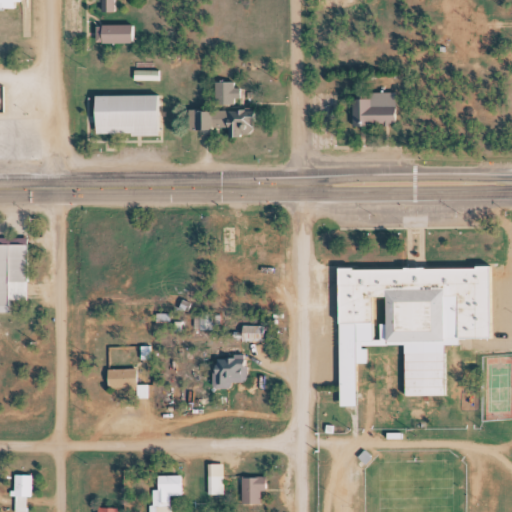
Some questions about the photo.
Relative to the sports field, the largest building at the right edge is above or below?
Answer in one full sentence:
It's above the sports field that the largest building at the right edge shows up.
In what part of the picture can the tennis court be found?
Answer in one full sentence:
The tennis court is located in the bottom right region of the scene.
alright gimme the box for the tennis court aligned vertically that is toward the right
[487,356,512,420]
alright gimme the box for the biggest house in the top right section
[352,90,398,126]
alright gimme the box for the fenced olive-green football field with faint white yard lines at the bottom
[366,451,466,512]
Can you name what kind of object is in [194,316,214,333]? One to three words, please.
shed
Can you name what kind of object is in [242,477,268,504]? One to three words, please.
house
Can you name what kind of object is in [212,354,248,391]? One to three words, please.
house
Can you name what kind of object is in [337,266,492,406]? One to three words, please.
building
